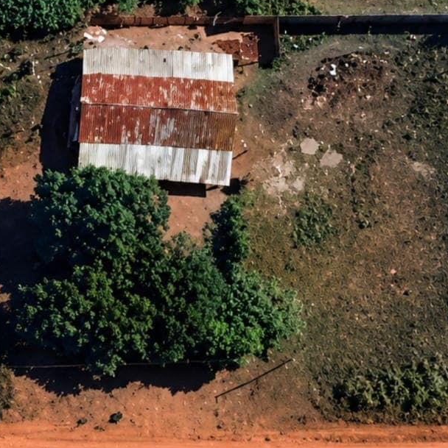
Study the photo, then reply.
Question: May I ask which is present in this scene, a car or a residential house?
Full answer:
It is a residential house that can be seen here.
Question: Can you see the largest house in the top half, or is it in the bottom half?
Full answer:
You can find the largest house in the top half.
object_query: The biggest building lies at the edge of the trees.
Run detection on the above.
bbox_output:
[68,47,238,188]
